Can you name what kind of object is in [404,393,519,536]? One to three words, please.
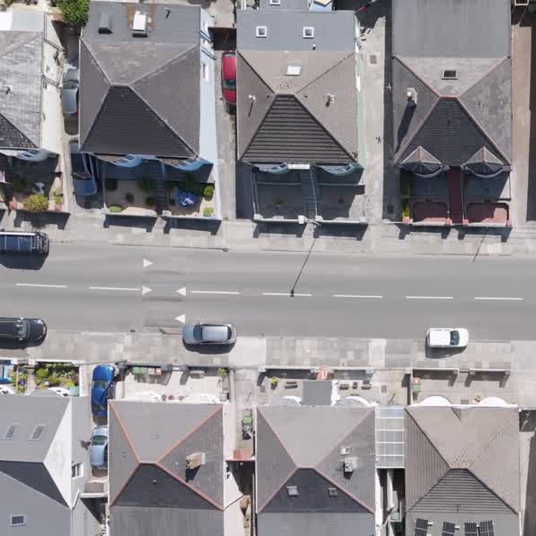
house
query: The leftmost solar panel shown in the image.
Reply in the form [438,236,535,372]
[414,520,432,536]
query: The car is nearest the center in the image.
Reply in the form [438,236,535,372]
[184,322,236,346]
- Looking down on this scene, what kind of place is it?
residential area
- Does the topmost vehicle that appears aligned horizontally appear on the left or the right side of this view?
left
